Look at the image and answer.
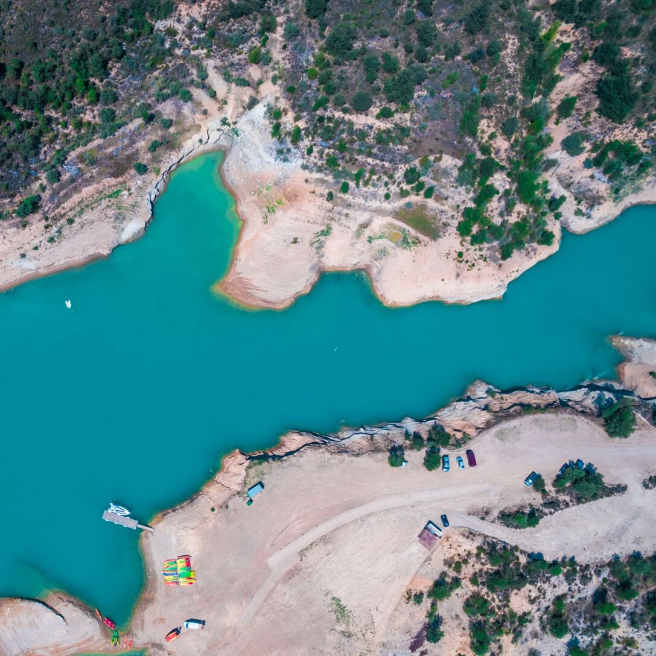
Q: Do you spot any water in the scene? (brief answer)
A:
Yes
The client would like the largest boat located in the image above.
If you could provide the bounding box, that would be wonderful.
[109,504,131,516]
